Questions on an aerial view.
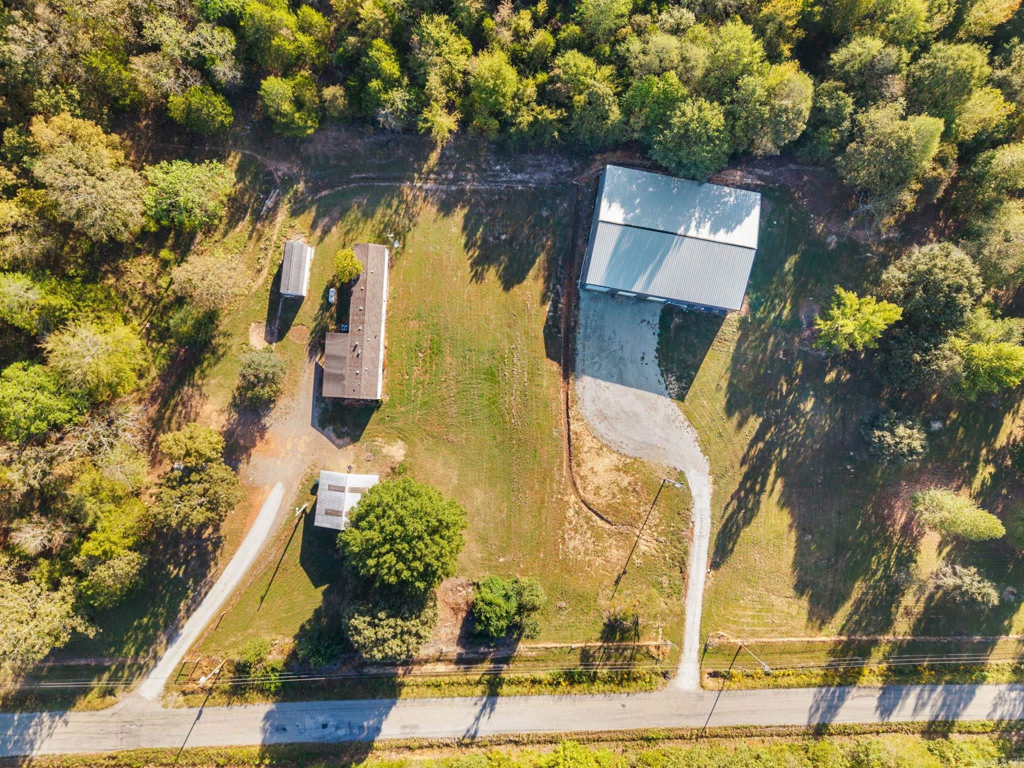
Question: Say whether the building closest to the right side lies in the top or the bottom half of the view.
top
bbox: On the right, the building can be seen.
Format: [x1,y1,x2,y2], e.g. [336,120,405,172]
[582,163,762,319]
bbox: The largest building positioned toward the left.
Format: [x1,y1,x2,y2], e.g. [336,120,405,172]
[322,243,389,408]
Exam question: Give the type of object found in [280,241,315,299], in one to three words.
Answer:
shed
